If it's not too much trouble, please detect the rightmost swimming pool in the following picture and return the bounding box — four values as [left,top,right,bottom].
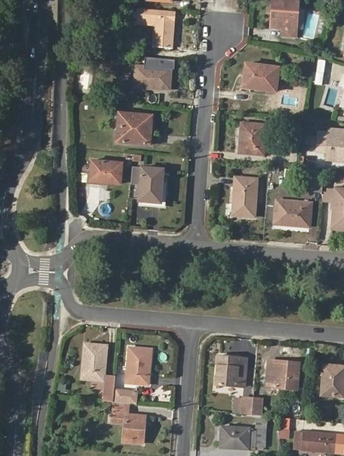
[323,84,340,110]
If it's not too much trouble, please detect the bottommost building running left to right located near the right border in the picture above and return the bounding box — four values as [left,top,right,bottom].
[292,430,344,456]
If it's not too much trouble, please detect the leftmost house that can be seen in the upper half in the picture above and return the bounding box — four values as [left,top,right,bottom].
[88,159,123,186]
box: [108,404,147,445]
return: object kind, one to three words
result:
house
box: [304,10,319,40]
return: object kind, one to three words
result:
swimming pool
